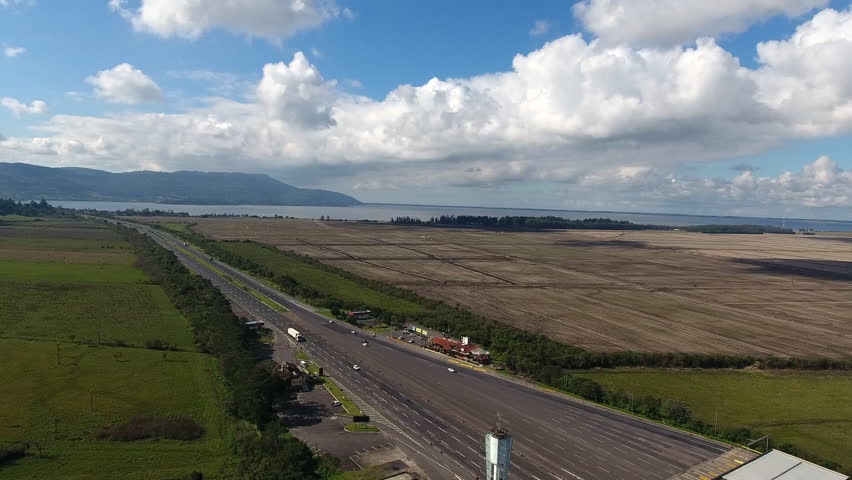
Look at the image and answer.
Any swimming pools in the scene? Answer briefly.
No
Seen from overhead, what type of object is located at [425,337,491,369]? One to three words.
building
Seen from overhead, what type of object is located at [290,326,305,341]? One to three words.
vehicle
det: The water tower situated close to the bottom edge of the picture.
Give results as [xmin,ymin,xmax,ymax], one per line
[480,413,508,480]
